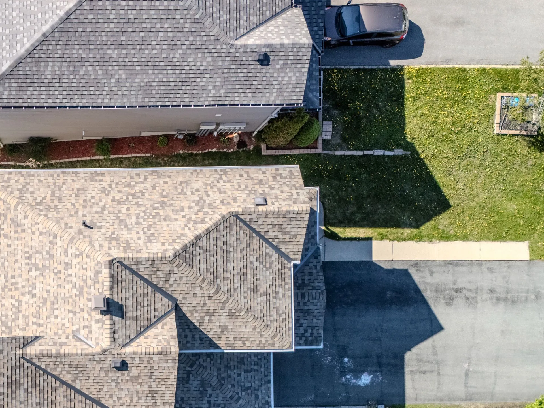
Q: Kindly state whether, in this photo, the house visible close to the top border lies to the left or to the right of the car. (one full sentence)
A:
It is on the left side of the car that the house visible close to the top border is positioned.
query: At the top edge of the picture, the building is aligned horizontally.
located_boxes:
[0,0,325,144]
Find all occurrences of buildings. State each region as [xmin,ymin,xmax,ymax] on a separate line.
[0,163,326,355]
[0,0,325,144]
